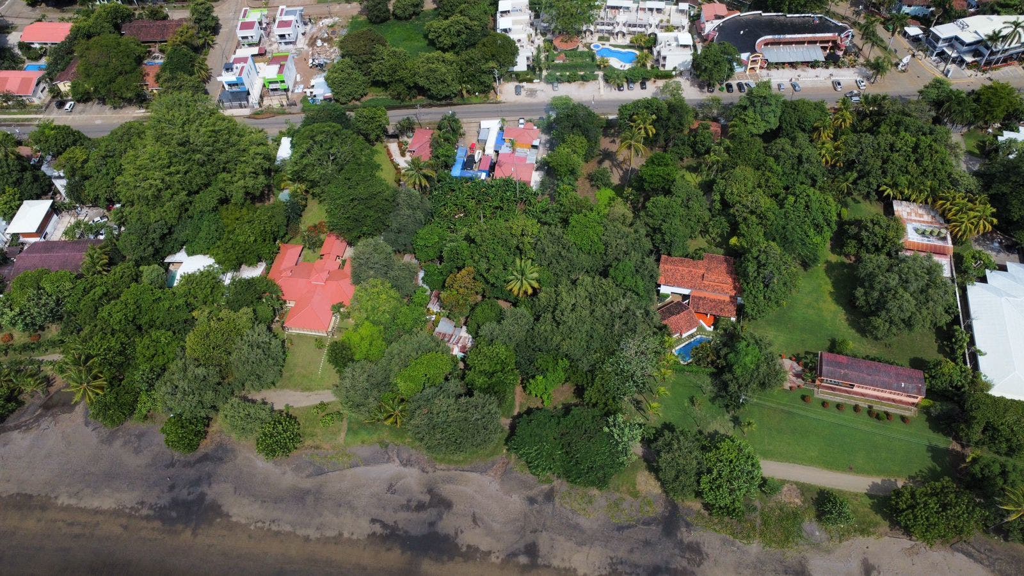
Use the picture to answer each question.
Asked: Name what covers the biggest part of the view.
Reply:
trees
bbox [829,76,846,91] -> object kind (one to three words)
car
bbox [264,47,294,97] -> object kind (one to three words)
house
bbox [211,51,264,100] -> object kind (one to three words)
house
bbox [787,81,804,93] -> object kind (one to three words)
vehicle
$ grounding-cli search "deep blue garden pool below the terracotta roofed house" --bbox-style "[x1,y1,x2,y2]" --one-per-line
[673,335,714,359]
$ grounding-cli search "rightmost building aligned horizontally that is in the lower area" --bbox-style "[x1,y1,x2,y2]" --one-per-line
[812,350,925,407]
